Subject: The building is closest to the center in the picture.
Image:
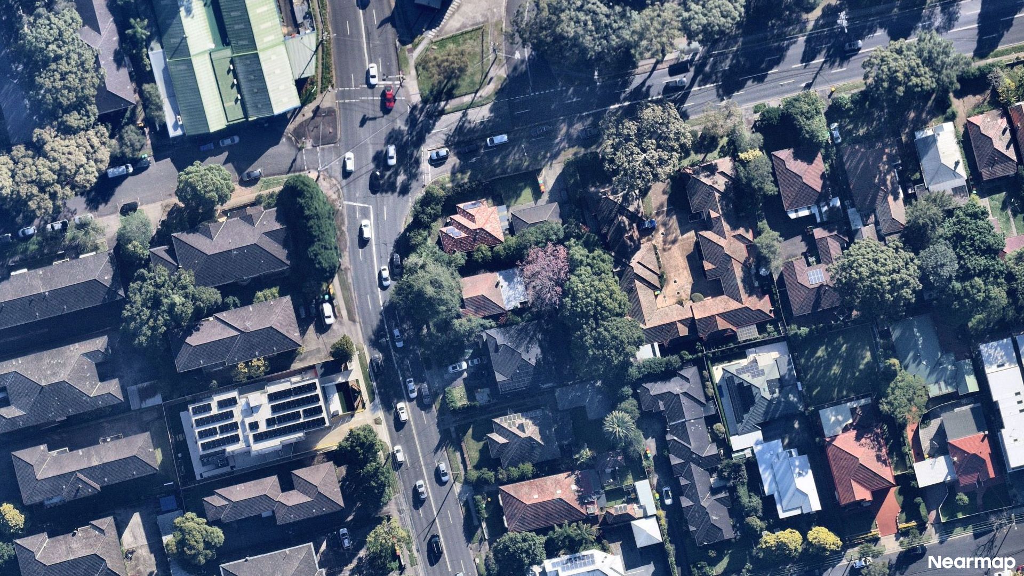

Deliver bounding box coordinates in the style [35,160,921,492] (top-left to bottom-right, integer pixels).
[458,267,529,318]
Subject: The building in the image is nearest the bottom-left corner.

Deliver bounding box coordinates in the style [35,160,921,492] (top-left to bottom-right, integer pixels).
[6,516,130,576]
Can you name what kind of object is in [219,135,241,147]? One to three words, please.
vehicle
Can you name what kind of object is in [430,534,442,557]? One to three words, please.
vehicle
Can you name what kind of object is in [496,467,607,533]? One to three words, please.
house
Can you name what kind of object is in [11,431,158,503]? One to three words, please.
building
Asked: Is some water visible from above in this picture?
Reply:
No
